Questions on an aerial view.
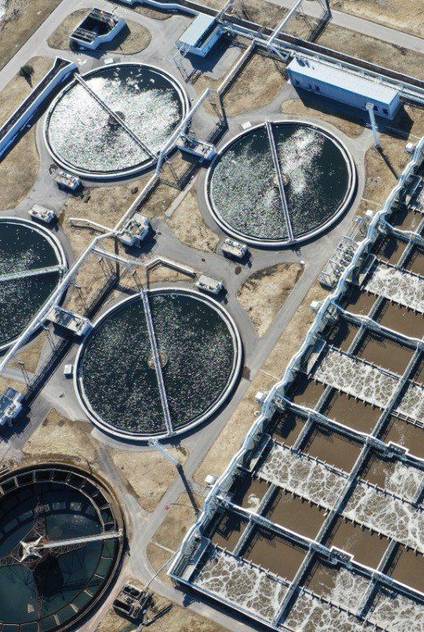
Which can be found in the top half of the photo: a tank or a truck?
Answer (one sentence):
You can see a tank in the top half of the photo.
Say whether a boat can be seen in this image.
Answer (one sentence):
No, I can see no boat in this picture.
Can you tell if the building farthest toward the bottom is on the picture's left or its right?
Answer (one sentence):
The building farthest toward the bottom appears in the right half of the scene.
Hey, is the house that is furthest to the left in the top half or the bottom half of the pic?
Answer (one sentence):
The house that is furthest to the left sits in the top half of the picture.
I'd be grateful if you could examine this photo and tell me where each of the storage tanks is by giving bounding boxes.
[0,216,71,355]
[74,286,244,444]
[42,61,192,181]
[206,117,357,249]
[0,465,131,632]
